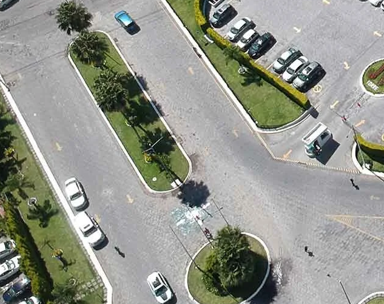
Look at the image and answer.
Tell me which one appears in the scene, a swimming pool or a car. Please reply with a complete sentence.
The image shows a car.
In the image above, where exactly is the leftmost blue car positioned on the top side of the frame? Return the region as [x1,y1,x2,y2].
[116,11,136,33]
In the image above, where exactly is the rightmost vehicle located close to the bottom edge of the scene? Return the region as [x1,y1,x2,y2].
[146,269,174,304]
